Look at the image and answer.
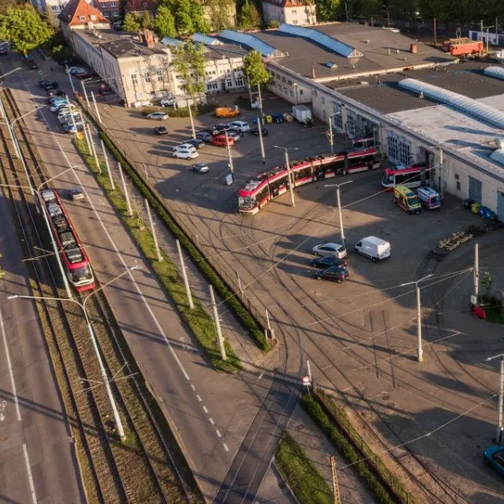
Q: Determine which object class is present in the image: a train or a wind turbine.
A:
train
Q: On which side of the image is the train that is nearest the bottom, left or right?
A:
left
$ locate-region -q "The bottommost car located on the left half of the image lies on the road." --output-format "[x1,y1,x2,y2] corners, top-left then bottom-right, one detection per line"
[69,184,84,197]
